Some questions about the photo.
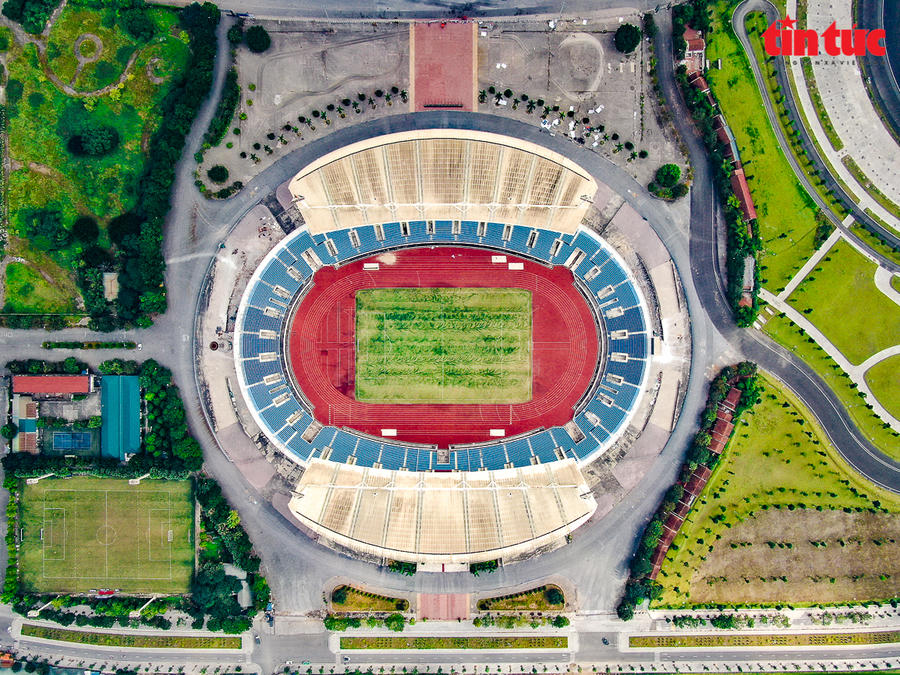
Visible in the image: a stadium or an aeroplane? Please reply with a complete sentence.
The one in the frame is a stadium.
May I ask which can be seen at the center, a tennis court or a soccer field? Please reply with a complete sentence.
What appears at the center is a soccer field.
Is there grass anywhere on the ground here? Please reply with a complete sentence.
Yes, there is grass in the image.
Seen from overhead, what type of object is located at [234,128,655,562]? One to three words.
stadium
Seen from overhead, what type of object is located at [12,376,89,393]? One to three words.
building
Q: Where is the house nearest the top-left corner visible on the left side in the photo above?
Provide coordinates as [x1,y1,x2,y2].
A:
[104,272,120,300]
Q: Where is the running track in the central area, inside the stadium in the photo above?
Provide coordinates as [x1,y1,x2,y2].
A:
[287,247,602,448]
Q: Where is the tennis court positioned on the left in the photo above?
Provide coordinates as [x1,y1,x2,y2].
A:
[39,426,101,456]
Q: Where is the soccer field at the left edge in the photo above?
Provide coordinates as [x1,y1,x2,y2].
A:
[20,478,194,593]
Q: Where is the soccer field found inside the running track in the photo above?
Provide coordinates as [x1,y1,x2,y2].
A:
[355,287,533,403]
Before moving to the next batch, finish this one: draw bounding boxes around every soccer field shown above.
[20,478,194,593]
[355,287,533,403]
